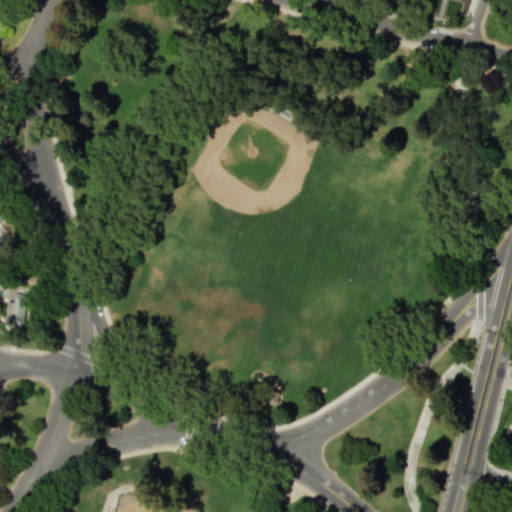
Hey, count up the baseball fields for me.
1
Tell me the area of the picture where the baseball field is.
center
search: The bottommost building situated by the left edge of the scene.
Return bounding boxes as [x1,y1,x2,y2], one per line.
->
[4,292,26,326]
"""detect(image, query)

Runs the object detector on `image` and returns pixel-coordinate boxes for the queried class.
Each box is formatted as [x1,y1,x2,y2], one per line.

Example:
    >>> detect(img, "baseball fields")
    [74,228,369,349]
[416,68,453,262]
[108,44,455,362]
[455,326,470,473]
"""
[188,107,424,352]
